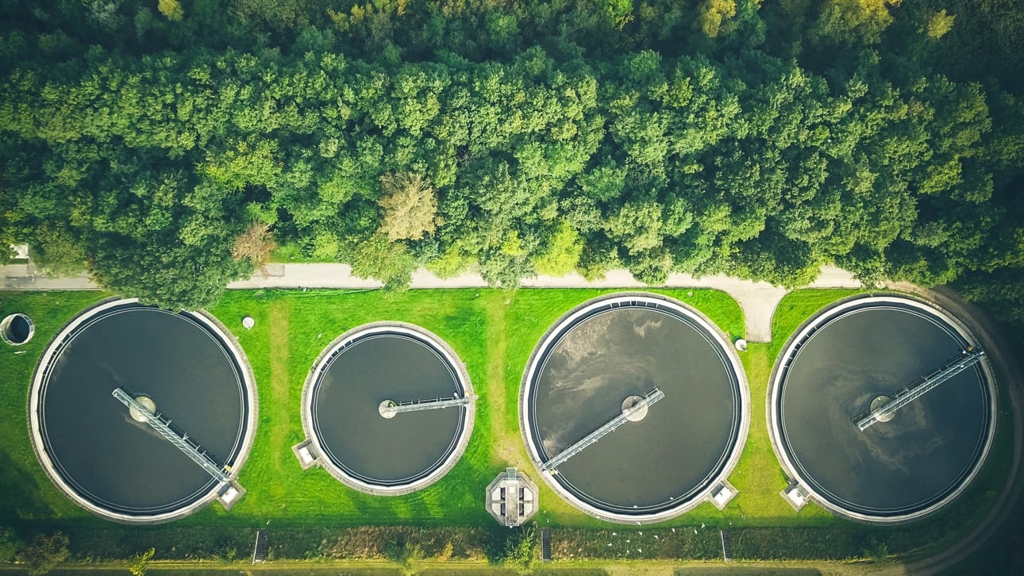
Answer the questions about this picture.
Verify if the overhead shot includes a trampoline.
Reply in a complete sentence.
No, I can't see a single trampoline in this photo.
